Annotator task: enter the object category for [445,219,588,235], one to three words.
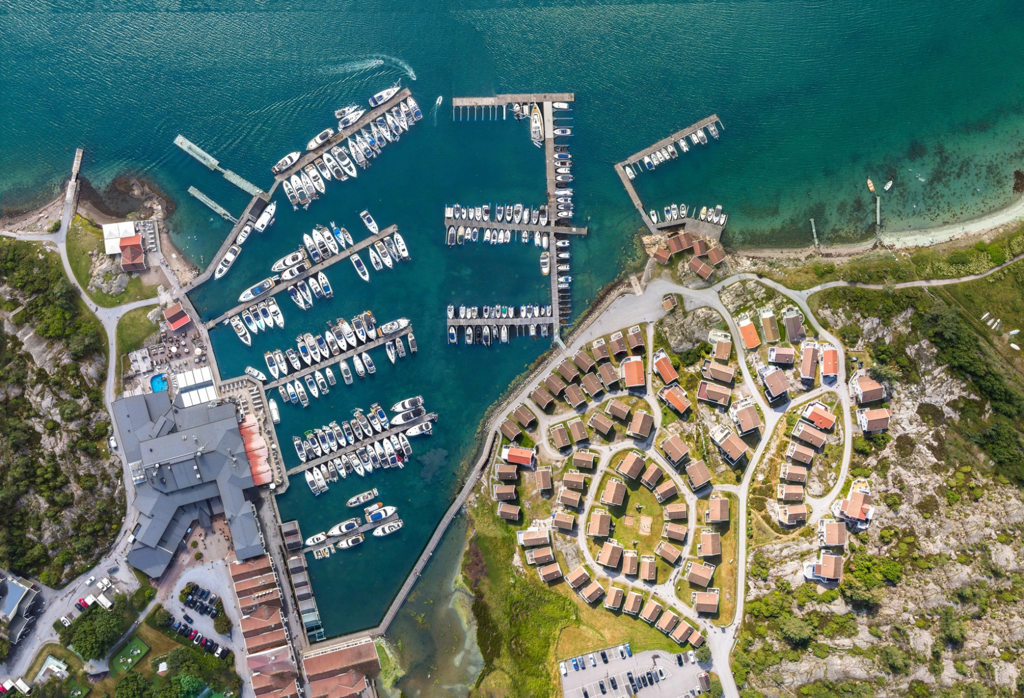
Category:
pier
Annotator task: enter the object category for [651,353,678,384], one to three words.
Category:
house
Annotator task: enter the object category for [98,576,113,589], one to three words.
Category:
vehicle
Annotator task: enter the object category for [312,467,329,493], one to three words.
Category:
boat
